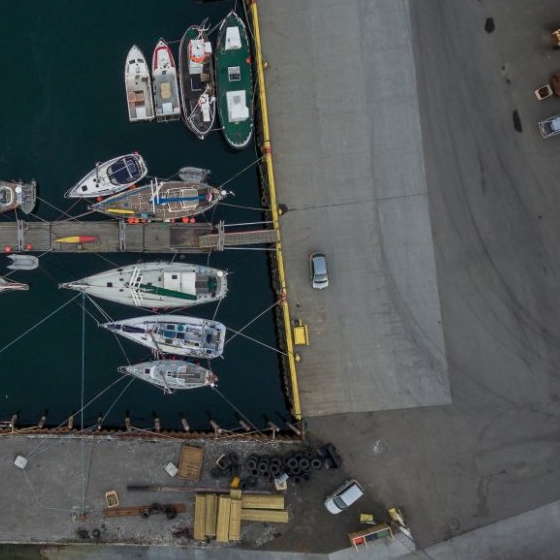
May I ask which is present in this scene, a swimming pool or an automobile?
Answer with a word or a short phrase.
automobile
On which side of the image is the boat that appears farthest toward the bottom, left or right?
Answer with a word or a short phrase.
left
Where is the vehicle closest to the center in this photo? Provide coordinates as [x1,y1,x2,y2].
[308,252,329,289]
